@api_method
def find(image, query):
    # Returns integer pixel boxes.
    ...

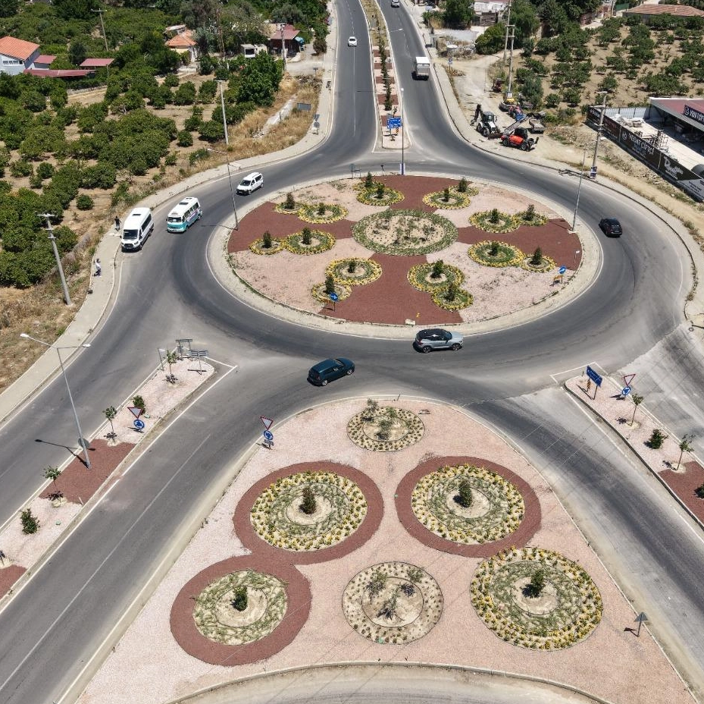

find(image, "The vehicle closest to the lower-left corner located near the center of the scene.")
[305,358,358,390]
